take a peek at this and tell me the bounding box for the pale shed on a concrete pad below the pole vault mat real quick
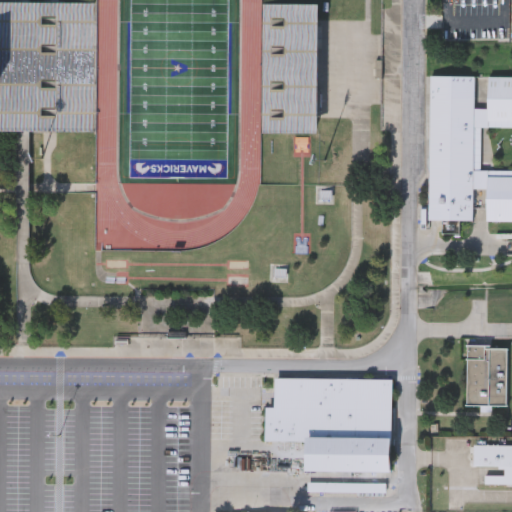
[270,264,288,282]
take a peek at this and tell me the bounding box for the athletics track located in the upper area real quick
[97,0,262,250]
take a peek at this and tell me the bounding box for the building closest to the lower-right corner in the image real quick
[471,445,512,486]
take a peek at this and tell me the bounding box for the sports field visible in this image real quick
[120,0,238,184]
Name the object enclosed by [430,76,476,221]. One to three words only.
building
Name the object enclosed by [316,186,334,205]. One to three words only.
shed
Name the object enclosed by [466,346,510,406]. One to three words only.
building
